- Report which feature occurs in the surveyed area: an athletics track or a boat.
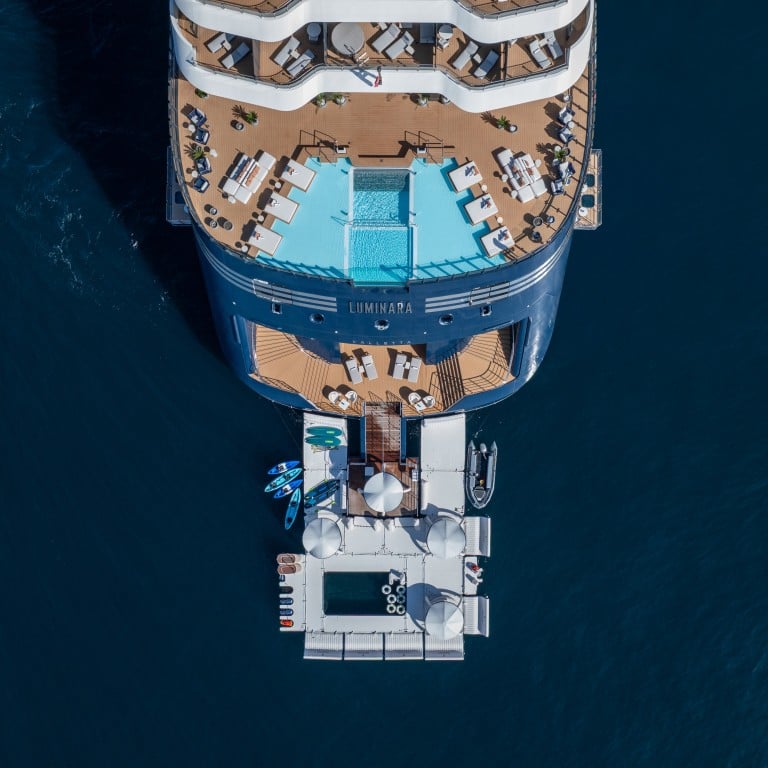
boat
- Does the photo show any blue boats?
Yes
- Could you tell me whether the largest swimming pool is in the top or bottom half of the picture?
top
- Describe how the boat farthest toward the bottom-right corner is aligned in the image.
up and down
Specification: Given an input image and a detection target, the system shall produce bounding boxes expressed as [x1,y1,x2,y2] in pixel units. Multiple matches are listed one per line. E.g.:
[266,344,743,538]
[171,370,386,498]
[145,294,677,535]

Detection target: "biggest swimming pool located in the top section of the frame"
[256,157,504,287]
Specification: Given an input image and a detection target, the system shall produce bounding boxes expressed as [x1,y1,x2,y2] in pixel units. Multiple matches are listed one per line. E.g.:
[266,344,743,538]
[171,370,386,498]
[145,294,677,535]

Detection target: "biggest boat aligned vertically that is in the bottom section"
[466,440,497,508]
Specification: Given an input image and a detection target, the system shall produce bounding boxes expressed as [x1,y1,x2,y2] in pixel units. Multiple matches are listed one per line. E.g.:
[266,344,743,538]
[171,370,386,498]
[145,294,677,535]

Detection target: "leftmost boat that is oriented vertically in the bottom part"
[286,490,300,528]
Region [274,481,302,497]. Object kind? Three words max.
boat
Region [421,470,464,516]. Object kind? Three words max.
pier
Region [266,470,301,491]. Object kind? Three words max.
boat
